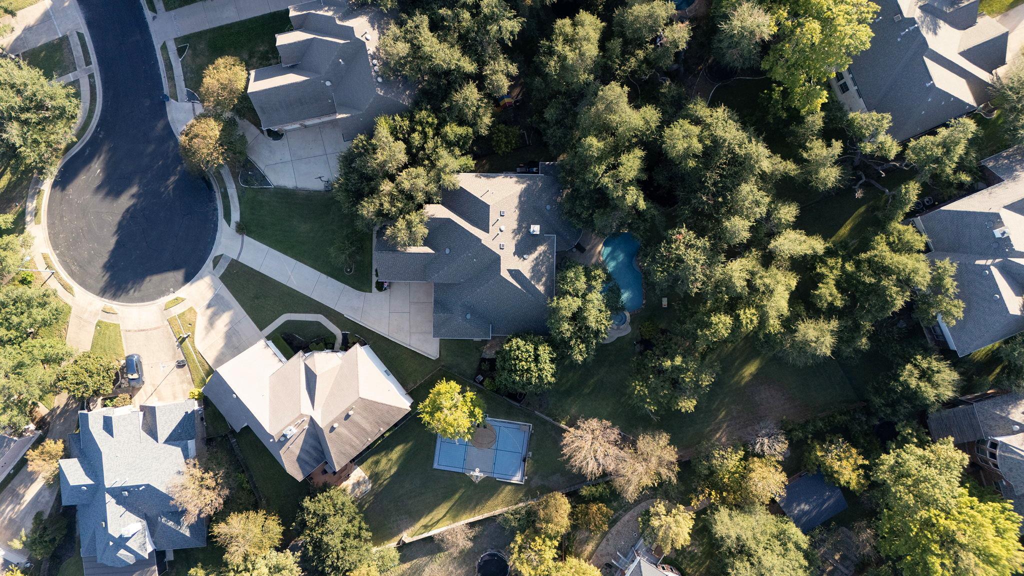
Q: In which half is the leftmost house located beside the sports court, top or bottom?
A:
bottom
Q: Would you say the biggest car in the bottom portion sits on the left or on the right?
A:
left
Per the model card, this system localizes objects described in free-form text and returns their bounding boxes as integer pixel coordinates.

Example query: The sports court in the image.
[433,416,532,484]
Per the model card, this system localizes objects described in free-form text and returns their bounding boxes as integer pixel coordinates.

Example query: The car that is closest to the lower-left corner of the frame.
[123,355,143,388]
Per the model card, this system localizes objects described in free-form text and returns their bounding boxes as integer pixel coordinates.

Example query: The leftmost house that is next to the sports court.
[202,338,417,482]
